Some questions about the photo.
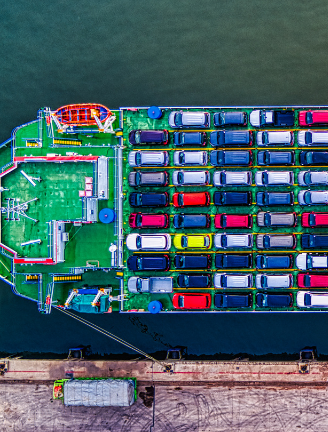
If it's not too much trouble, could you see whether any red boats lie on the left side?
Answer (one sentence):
Yes, a red boat appears on the left side.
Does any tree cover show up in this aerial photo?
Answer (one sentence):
No, there's no tree cover in this view.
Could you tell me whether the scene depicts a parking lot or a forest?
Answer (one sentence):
This looks like a parking lot.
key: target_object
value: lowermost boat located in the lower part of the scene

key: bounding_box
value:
[64,293,116,312]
